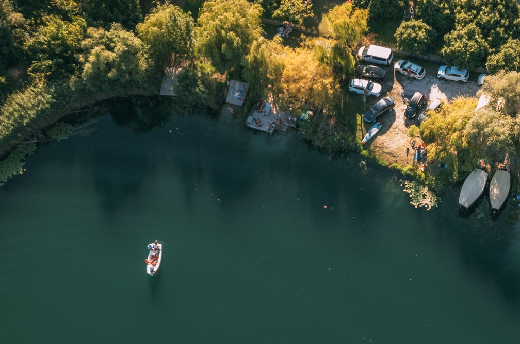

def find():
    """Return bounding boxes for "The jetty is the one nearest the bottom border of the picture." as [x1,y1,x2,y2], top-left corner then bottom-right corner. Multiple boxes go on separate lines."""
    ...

[246,96,302,135]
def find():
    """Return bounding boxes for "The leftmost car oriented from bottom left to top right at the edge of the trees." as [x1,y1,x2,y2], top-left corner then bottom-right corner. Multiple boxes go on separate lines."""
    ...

[362,97,397,124]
